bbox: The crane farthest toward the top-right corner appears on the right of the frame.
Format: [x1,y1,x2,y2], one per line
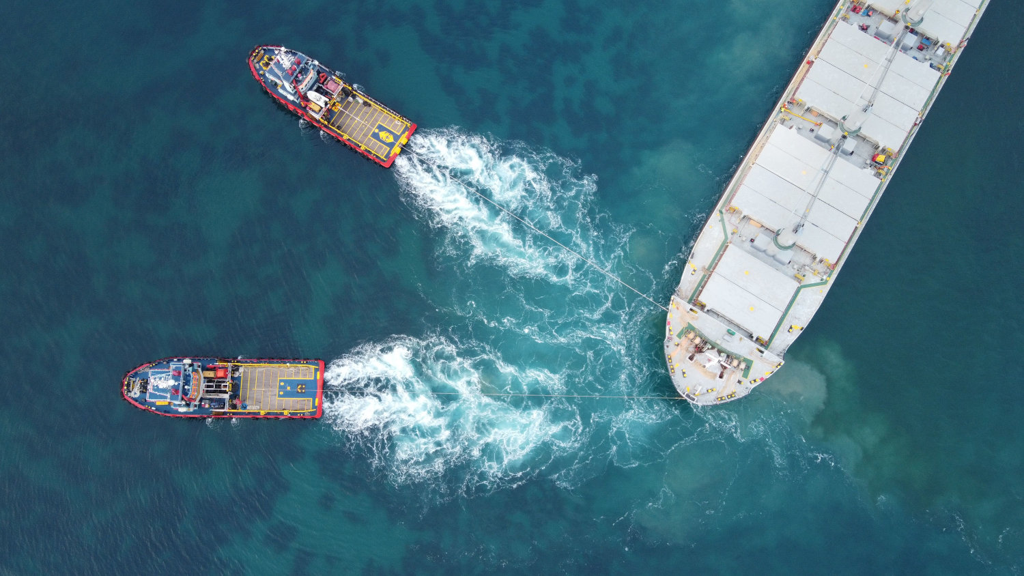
[887,0,935,47]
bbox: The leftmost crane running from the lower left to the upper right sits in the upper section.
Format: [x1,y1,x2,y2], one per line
[764,133,848,259]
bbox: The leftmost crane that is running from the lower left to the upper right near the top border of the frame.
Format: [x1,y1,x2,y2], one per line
[827,25,910,150]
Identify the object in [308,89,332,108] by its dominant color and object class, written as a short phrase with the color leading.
white boat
